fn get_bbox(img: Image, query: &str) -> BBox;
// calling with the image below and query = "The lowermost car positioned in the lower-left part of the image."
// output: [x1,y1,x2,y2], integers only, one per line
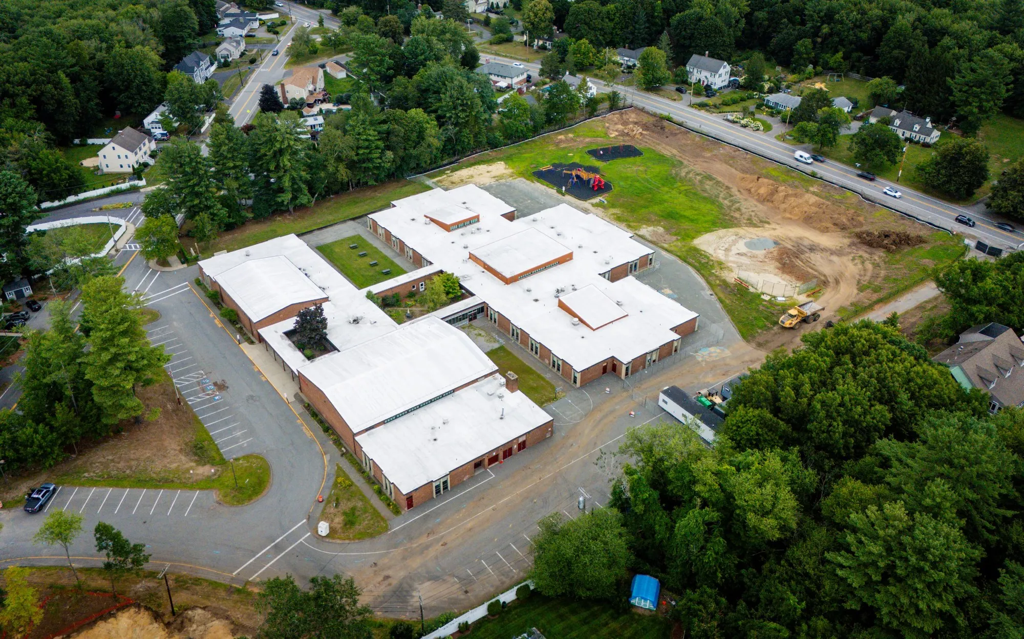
[23,481,55,506]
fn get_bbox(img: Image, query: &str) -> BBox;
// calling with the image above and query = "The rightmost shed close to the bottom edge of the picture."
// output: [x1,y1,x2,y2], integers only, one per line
[629,564,664,610]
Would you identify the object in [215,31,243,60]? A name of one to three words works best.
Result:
house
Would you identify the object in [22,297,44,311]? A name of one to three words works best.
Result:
car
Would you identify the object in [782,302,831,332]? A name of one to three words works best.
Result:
truck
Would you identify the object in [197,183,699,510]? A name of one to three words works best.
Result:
building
